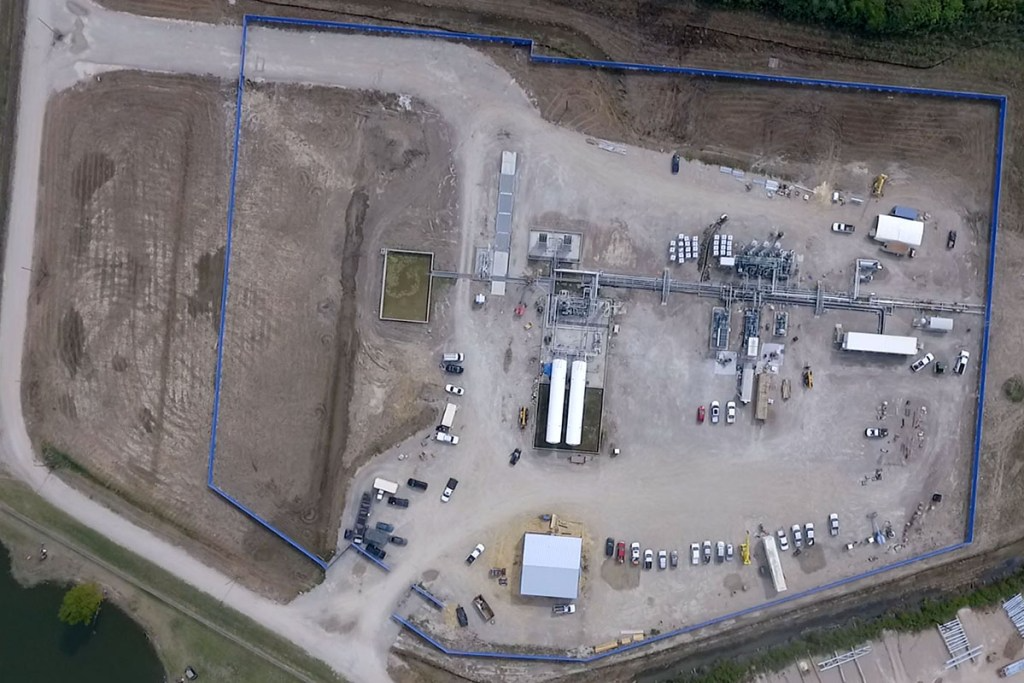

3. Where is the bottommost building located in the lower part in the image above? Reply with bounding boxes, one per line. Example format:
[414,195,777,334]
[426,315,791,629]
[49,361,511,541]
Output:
[519,530,583,599]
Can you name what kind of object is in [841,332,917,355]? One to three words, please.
trailer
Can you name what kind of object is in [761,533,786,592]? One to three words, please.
trailer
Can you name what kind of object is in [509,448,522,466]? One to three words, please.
vehicle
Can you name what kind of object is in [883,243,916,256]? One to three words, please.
vehicle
